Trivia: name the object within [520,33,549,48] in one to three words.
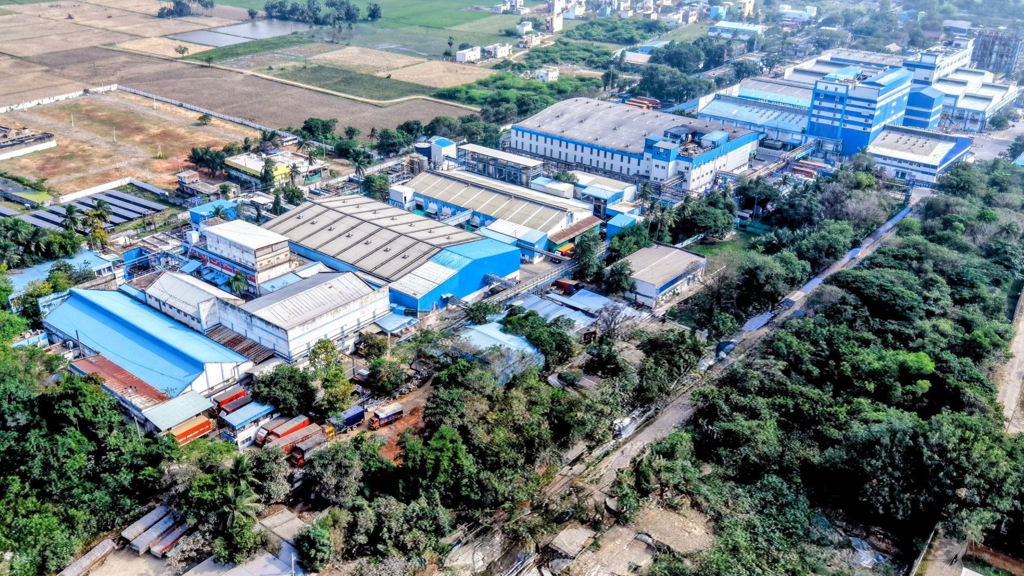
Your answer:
house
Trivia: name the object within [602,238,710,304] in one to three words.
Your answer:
building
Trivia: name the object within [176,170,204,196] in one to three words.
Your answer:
building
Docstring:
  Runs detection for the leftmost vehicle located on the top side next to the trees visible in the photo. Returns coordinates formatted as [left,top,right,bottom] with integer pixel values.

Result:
[278,132,301,146]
